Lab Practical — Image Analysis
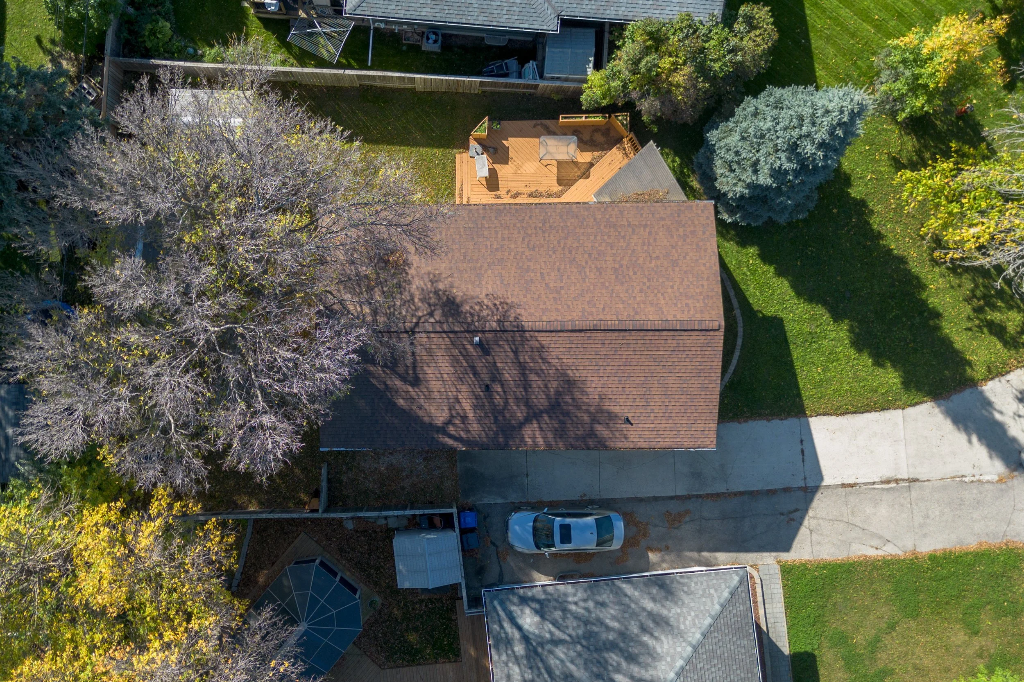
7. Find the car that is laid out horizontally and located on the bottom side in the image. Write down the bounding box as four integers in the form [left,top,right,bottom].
[504,505,623,563]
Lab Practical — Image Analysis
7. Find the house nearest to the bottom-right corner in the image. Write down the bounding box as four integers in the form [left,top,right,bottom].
[481,564,760,682]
